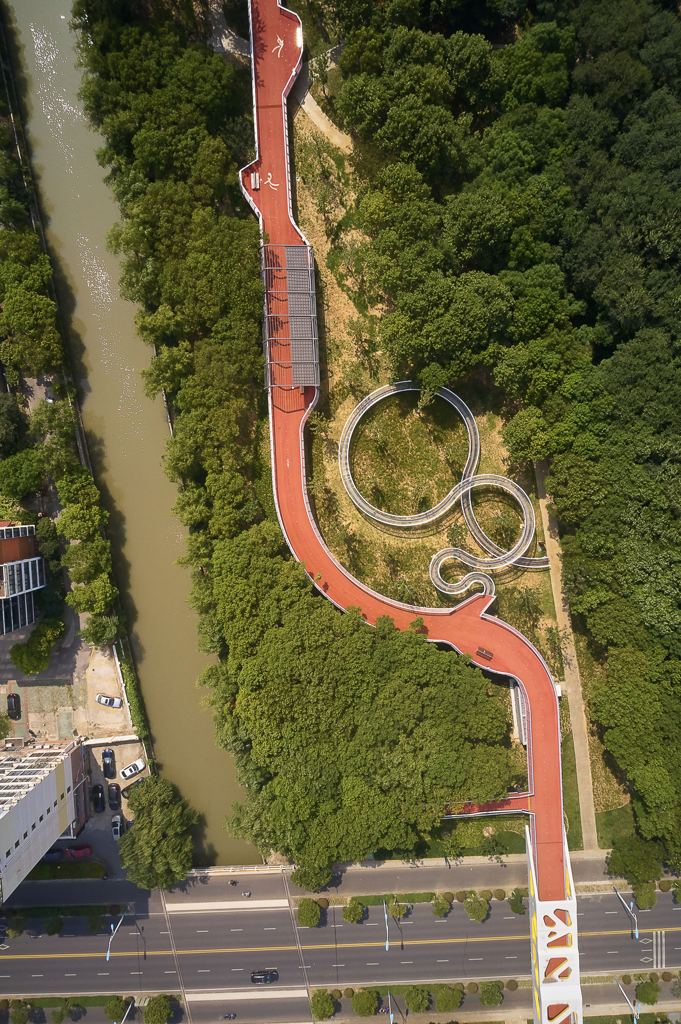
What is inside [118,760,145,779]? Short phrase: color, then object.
white car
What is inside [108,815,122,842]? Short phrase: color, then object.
gray car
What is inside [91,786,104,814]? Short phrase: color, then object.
black vehicle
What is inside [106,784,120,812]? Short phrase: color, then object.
black car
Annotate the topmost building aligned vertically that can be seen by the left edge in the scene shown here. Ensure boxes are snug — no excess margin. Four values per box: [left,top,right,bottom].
[0,524,46,637]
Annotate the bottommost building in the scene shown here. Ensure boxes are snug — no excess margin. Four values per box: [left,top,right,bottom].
[0,734,91,902]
